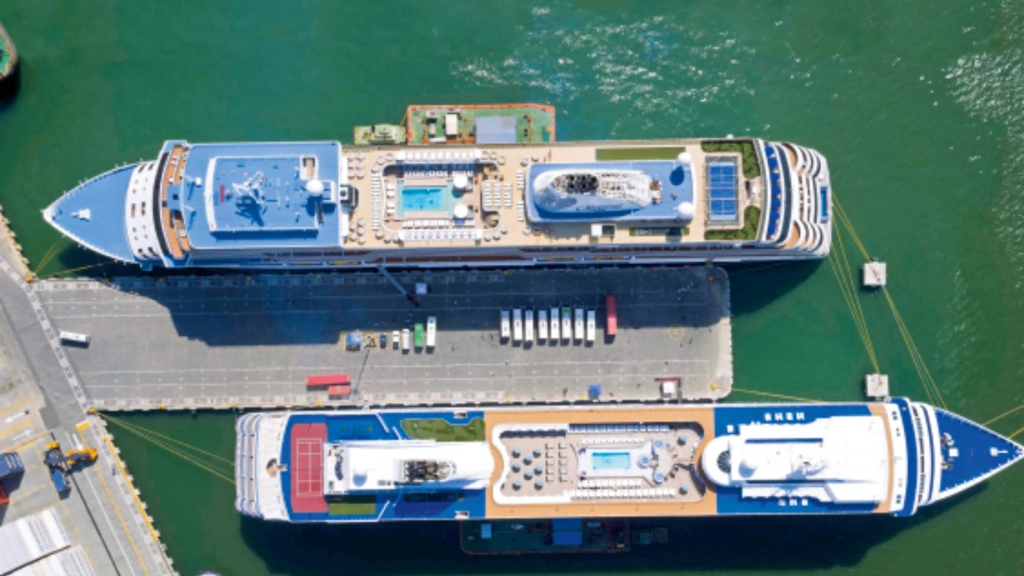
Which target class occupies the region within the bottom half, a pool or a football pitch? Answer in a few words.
pool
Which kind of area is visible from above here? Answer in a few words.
port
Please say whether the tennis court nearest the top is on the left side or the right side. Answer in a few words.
right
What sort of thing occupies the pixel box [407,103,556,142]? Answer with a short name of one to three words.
ship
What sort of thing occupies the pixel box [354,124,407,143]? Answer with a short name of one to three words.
boat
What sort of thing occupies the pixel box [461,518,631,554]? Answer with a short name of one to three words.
ship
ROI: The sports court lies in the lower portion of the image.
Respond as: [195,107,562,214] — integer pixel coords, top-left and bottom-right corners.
[292,423,328,513]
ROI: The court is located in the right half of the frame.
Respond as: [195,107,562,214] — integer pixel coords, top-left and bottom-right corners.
[706,152,744,225]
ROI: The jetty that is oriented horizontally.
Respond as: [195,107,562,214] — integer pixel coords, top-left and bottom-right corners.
[32,265,735,413]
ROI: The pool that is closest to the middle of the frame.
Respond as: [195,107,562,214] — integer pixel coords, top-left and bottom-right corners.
[401,186,445,212]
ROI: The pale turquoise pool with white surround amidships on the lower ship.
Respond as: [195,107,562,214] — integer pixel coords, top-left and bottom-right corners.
[592,451,631,471]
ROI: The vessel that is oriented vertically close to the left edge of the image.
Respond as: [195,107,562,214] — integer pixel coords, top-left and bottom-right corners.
[0,33,24,87]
